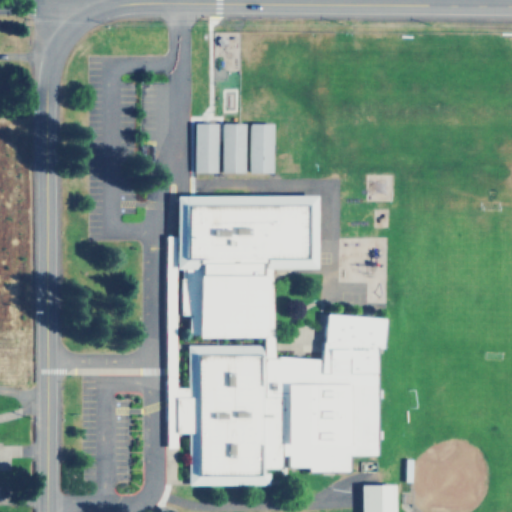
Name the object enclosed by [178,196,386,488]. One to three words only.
building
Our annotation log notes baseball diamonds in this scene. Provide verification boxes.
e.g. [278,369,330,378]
[413,439,489,512]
